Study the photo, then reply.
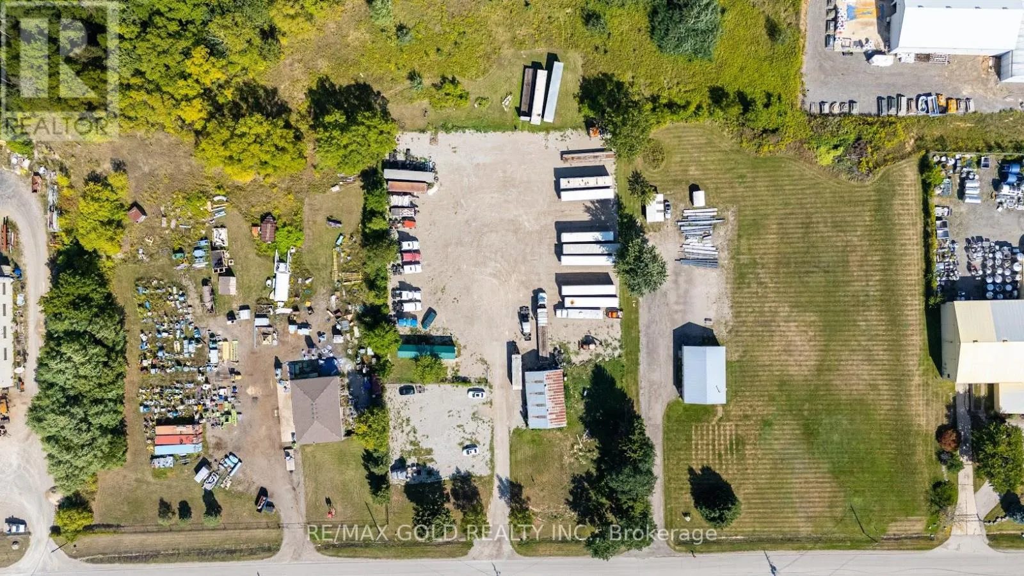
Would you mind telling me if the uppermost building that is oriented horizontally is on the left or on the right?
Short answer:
right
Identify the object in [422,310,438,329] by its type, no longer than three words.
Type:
vehicle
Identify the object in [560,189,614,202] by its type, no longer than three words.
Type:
vehicle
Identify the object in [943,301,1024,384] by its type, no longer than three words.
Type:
building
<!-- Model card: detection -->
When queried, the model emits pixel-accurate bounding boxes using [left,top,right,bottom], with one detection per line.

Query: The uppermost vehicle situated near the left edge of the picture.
[32,175,45,193]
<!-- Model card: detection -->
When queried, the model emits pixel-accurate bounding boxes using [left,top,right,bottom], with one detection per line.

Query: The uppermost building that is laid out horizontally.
[891,0,1022,54]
